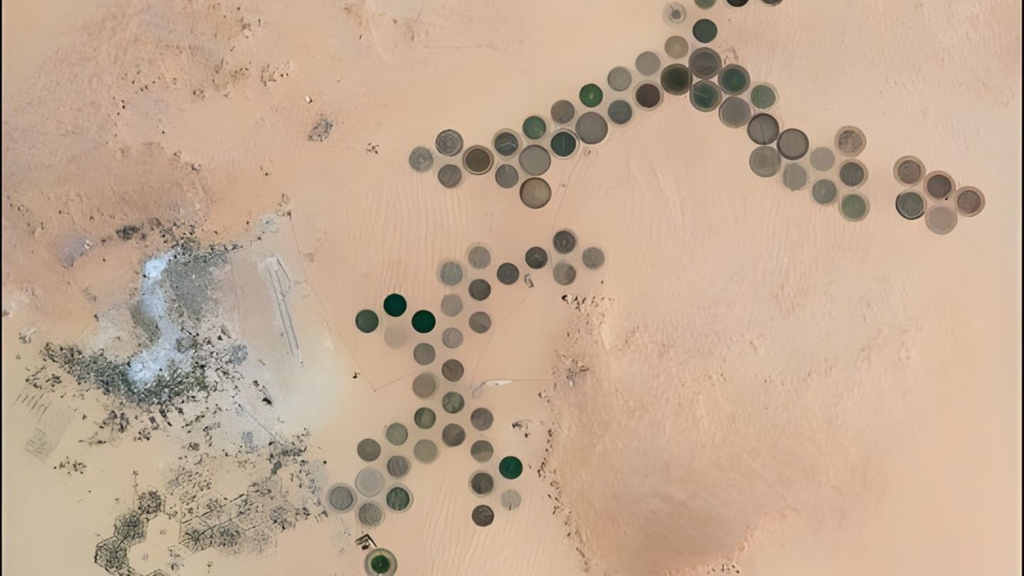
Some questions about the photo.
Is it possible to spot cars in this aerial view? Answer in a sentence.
No, no car can be seen from above.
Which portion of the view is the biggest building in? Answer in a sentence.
You can find the biggest building in the left area of the picture.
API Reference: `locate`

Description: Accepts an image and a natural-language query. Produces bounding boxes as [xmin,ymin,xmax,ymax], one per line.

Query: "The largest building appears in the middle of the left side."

[165,249,231,324]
